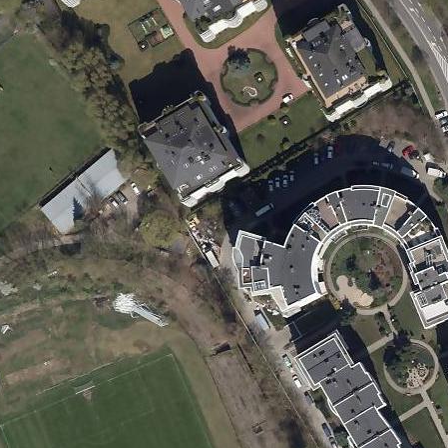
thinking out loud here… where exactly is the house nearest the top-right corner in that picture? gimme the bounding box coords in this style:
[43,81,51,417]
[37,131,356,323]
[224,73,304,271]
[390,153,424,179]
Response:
[287,4,378,119]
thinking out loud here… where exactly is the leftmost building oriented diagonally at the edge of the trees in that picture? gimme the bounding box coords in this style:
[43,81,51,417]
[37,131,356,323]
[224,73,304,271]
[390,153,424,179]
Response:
[36,145,127,235]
